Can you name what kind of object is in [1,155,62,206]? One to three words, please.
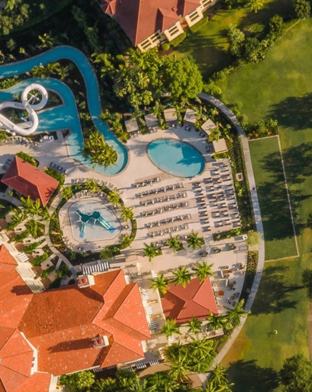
building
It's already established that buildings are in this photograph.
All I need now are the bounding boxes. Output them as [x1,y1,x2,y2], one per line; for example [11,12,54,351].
[0,209,159,392]
[166,275,219,323]
[1,155,62,206]
[100,0,224,54]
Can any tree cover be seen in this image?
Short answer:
Yes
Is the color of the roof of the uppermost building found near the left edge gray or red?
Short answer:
red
